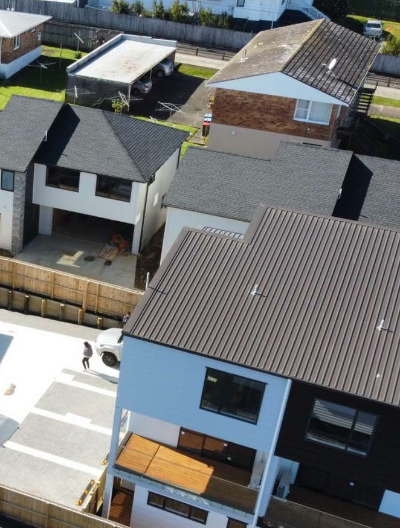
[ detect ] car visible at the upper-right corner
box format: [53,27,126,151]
[365,16,388,39]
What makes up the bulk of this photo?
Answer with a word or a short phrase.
buildings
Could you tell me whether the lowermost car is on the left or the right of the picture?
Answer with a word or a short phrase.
left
